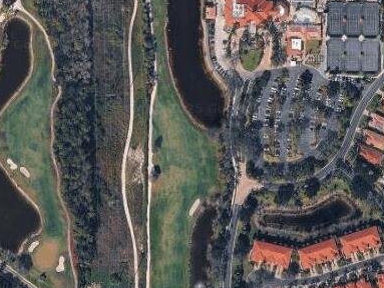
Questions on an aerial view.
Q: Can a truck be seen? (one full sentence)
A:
No, this view has no truck in it.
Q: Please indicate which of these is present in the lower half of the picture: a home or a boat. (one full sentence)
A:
What appears in the lower half of the picture is a home.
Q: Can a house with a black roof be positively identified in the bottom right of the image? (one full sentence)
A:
No, I can find no house with a black roof in the bottom right of the image.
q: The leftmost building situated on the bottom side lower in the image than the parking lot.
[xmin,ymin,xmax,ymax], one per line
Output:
[250,241,290,267]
